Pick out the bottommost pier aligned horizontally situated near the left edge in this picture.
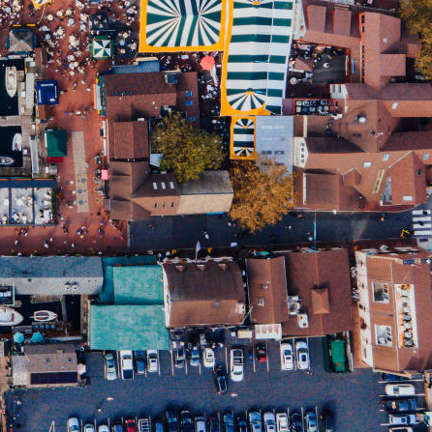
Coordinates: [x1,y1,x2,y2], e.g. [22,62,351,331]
[0,323,83,348]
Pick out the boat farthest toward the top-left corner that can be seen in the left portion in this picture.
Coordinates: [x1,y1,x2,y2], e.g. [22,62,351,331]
[5,66,17,98]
